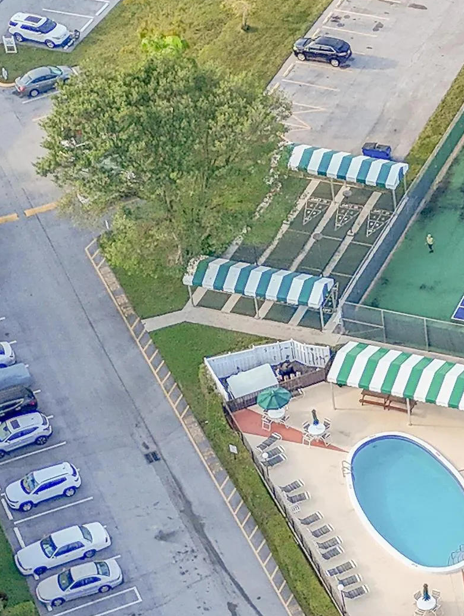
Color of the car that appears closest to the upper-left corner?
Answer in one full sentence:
The car that appears closest to the upper-left corner is white.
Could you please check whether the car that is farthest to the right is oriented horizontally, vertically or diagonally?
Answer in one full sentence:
From this overhead view, the car that is farthest to the right appears to run horizontally.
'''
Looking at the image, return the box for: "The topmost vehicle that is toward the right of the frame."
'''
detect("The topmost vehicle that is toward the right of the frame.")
[291,36,353,66]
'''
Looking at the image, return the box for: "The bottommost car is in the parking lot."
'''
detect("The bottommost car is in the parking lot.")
[33,559,122,608]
